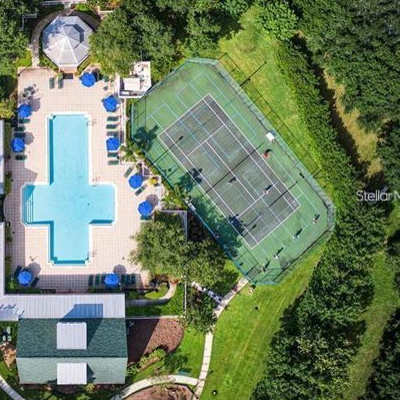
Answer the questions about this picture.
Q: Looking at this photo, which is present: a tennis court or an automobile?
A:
tennis court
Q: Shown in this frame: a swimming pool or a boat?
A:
swimming pool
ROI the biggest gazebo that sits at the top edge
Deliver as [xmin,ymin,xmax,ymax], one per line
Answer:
[43,17,93,68]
